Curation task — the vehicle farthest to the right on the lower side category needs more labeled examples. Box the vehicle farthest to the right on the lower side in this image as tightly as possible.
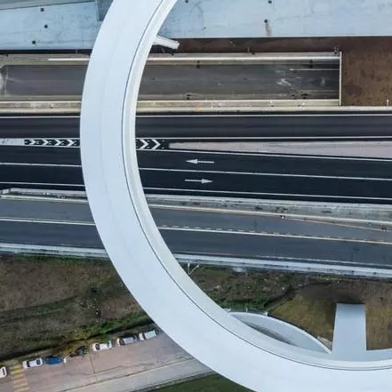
[136,327,157,342]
